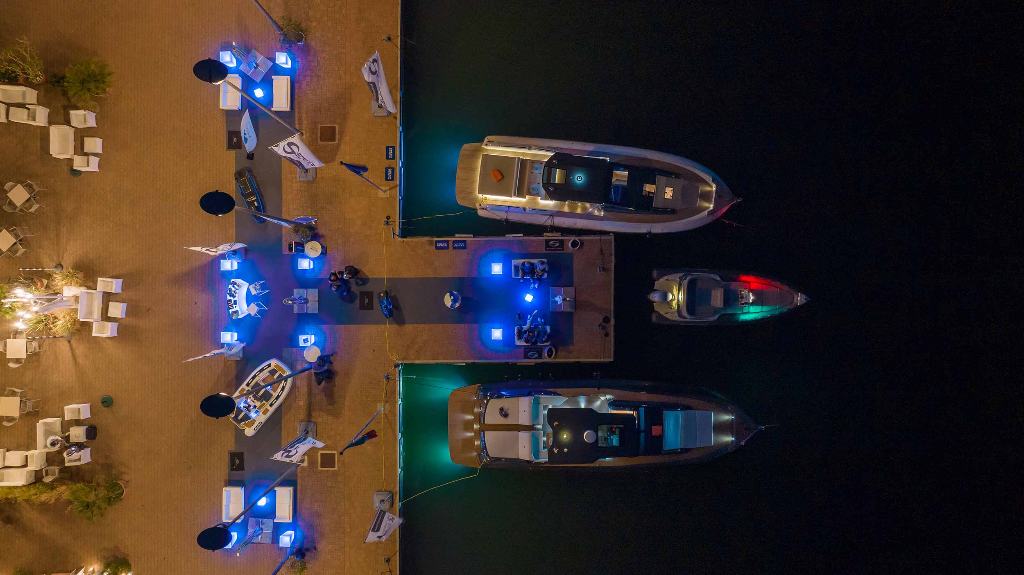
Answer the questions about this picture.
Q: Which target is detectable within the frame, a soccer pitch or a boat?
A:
boat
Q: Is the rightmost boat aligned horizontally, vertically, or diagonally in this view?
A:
horizontally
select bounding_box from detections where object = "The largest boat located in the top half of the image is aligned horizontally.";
[453,136,741,233]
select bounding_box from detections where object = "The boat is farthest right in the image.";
[647,268,811,326]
